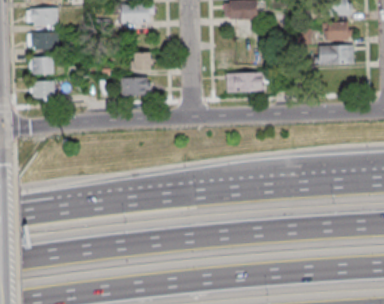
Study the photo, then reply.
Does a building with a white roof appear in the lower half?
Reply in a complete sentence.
No, I can find no building with a white roof in the lower half.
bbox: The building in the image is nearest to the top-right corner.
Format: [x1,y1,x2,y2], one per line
[333,0,357,17]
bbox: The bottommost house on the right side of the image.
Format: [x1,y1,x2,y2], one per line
[226,73,266,94]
